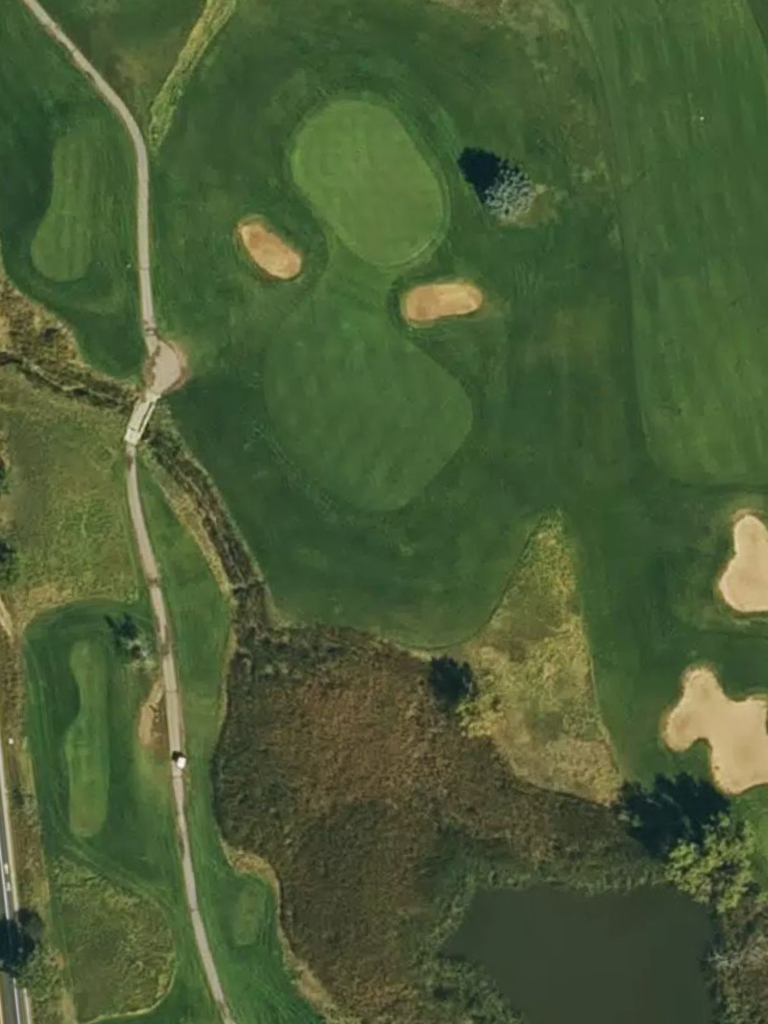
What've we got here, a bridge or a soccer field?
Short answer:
bridge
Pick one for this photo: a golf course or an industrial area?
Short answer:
golf course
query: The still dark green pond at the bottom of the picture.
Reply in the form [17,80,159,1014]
[441,881,710,1024]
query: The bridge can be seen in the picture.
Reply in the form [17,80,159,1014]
[124,390,161,445]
